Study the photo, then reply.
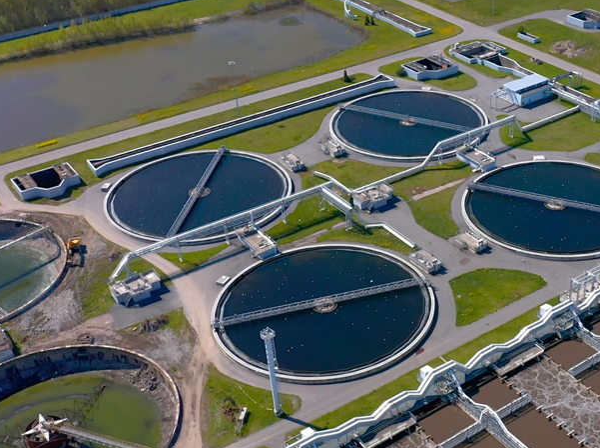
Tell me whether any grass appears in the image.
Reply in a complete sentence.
Yes, there is grass in the image.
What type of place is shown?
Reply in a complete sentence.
It's an industrial area.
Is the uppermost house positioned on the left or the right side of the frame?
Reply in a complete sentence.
You can find the uppermost house on the right side of the picture.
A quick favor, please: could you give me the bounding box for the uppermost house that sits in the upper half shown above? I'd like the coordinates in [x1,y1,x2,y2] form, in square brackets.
[498,68,553,106]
